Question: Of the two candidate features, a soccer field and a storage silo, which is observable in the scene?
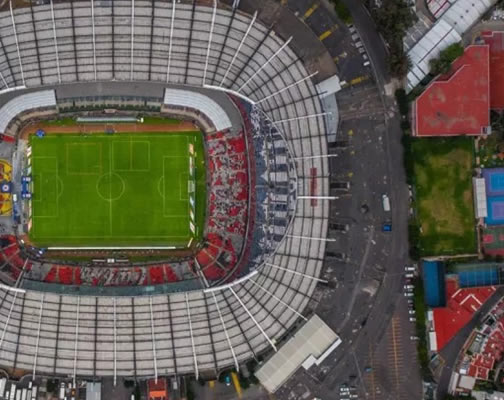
soccer field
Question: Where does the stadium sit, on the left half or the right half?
left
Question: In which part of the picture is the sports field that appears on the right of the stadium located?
right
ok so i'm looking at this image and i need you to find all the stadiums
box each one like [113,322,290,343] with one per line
[0,0,338,385]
